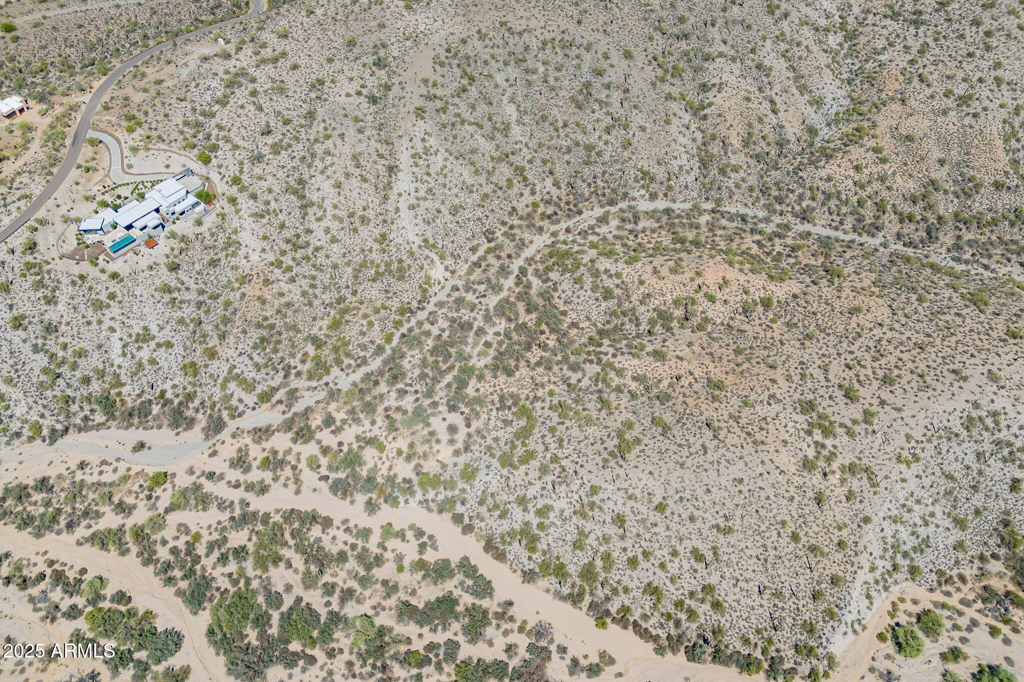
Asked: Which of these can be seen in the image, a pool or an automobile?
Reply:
pool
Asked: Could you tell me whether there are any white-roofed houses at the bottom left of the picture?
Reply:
No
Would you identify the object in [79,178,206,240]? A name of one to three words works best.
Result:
house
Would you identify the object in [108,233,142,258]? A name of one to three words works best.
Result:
swimming pool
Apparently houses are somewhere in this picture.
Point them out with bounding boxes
[79,178,206,240]
[0,96,30,121]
